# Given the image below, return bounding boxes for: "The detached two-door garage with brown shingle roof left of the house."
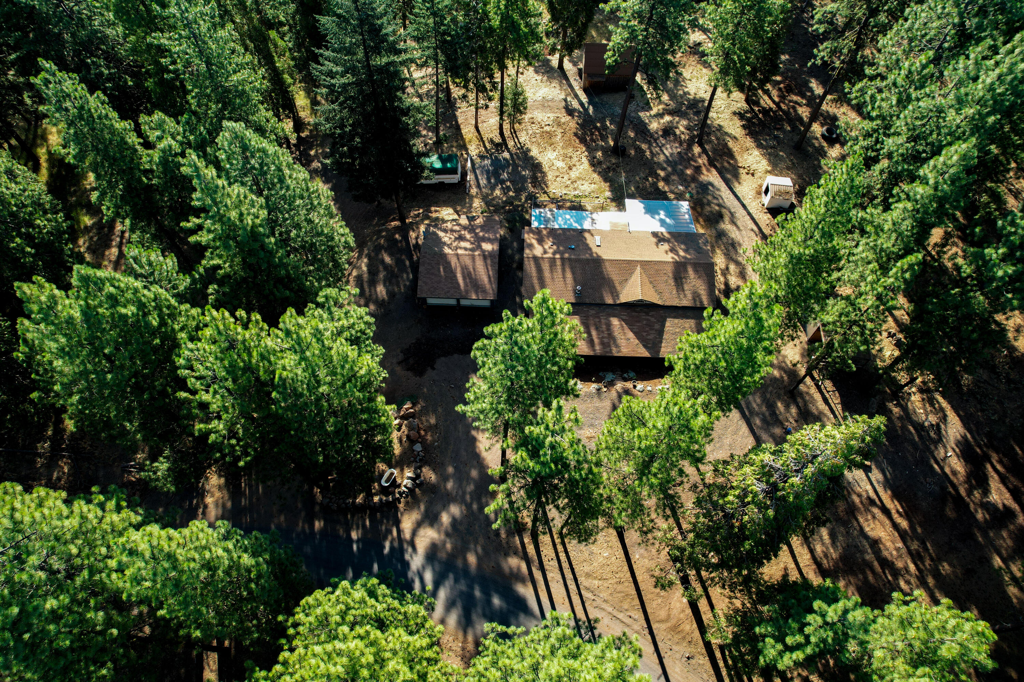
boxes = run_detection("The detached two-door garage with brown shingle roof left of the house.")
[417,216,501,312]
